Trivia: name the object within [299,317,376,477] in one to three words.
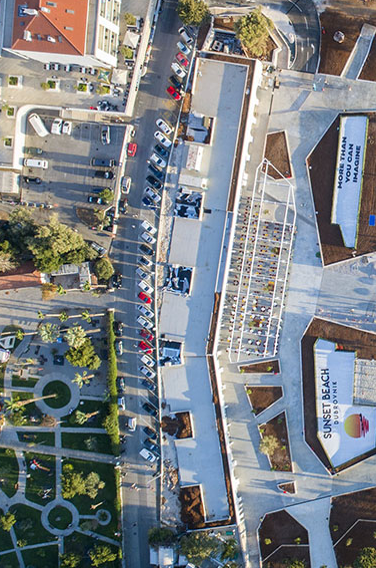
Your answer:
building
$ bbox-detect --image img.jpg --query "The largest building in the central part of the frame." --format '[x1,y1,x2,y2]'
[160,55,263,532]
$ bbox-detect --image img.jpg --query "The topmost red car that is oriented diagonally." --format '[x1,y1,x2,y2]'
[175,52,191,67]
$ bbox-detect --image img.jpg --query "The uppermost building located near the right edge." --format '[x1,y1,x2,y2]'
[305,109,376,265]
